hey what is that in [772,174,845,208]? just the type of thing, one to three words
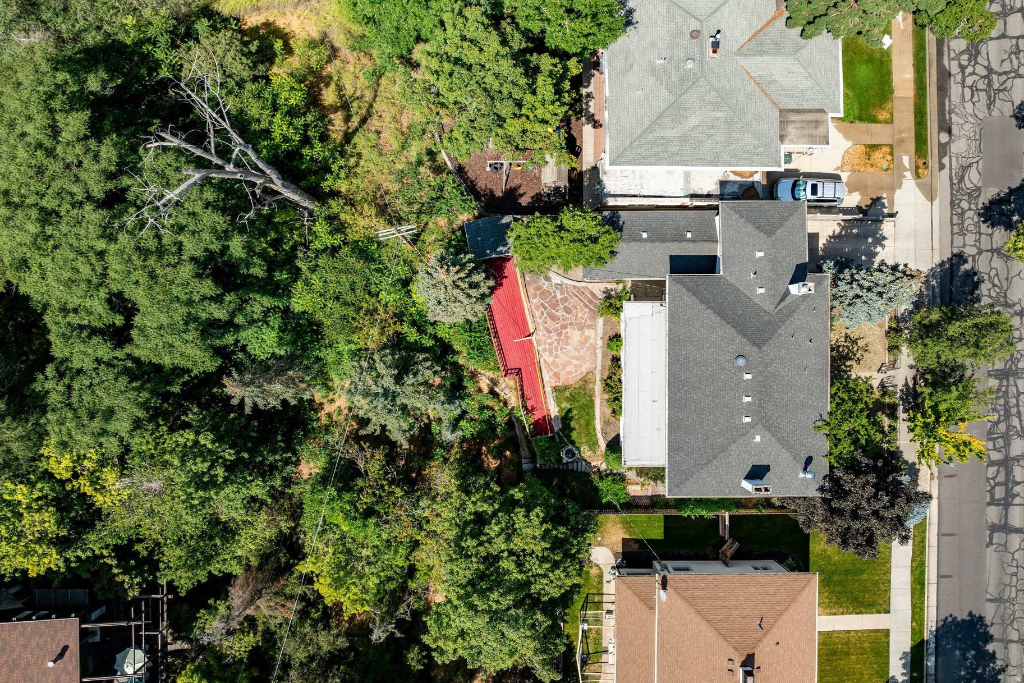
car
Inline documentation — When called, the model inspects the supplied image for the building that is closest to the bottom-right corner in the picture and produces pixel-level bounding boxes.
[613,560,820,683]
